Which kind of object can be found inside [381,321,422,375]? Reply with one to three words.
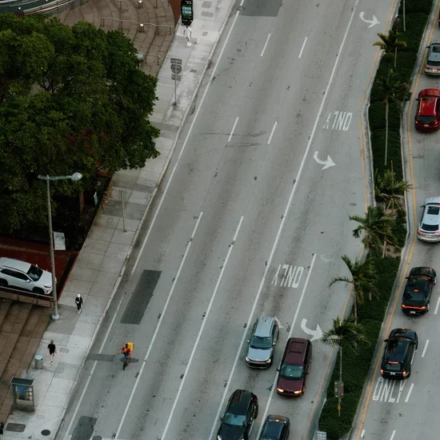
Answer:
car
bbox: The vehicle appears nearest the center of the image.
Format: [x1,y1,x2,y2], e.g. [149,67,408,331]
[245,307,285,365]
